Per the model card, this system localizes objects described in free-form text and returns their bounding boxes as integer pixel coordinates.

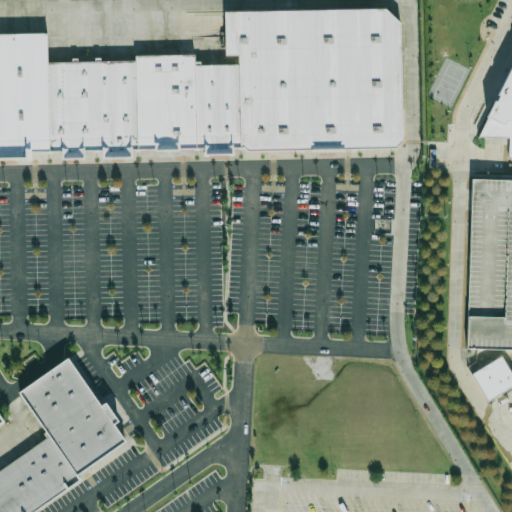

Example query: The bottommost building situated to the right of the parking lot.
[472,356,512,402]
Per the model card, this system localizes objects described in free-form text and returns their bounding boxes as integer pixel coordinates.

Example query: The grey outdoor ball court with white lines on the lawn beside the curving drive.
[430,58,470,107]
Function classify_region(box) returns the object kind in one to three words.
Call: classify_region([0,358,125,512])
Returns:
building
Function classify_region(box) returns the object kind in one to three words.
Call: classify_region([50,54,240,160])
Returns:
building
